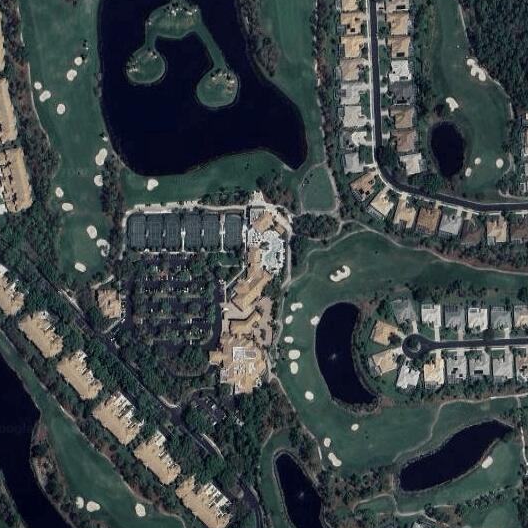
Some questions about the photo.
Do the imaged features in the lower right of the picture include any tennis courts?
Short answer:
No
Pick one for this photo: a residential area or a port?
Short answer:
residential area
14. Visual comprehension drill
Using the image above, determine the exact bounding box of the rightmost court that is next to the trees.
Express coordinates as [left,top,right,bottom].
[224,212,242,251]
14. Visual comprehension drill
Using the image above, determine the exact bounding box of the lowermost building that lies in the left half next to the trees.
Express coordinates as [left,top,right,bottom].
[175,476,230,528]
